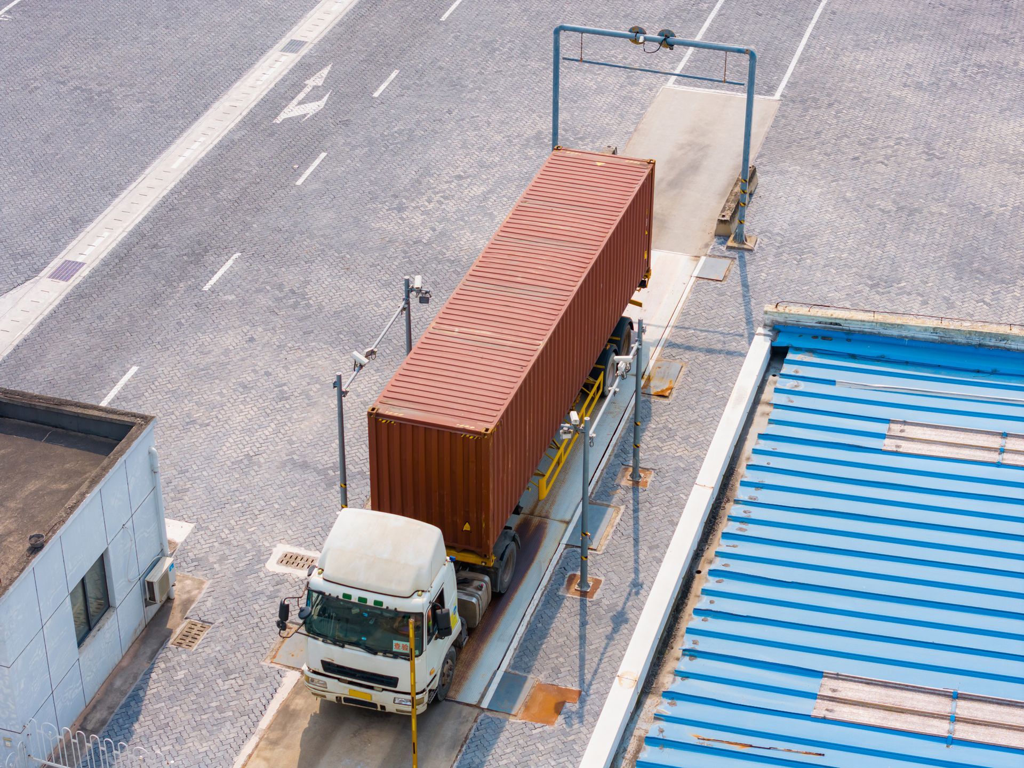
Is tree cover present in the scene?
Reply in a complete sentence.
No, no tree cover is visible.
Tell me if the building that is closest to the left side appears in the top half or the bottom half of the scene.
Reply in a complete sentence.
The bottom half of the photo is where the building that is closest to the left side is.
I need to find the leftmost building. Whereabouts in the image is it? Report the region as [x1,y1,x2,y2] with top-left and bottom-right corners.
[0,387,178,768]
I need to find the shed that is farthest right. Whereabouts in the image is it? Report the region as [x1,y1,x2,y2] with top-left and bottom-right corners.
[580,302,1024,768]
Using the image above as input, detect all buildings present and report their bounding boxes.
[580,302,1024,768]
[0,387,178,768]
